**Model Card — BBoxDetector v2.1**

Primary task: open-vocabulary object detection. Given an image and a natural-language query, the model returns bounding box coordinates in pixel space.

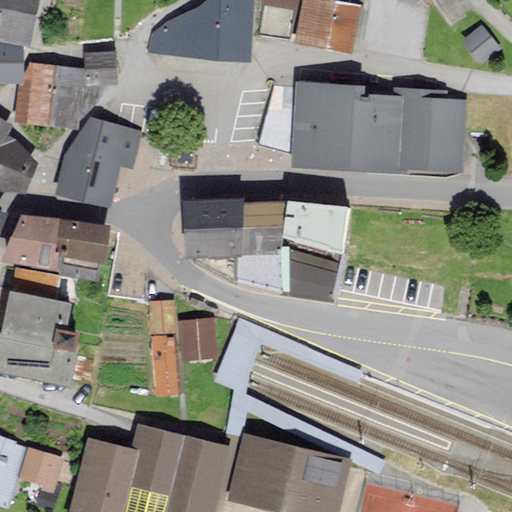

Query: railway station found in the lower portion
[214,318,512,474]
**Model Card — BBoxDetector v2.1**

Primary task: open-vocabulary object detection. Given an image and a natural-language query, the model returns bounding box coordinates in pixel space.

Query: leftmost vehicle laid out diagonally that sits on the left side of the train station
[72,384,92,406]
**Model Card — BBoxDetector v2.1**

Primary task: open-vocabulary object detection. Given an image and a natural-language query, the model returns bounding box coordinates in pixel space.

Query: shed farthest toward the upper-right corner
[463,24,502,64]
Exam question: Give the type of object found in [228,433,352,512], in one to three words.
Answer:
building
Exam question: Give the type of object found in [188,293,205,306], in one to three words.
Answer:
vehicle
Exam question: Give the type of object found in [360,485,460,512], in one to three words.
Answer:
sports court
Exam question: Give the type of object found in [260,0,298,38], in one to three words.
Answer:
house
